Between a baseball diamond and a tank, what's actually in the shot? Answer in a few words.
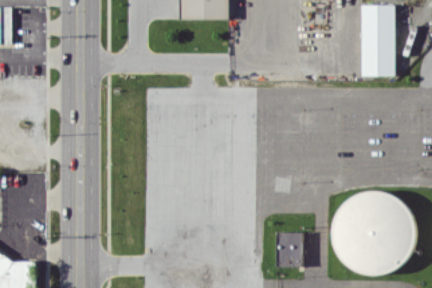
tank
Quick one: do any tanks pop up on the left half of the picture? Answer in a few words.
No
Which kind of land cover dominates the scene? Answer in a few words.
paved ground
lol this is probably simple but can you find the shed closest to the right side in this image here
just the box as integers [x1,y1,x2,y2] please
[362,5,395,76]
